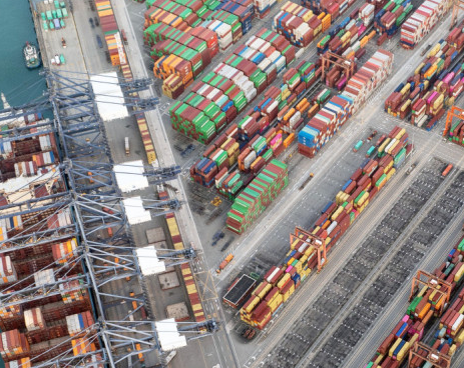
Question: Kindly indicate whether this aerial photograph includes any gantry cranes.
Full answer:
Yes, this view includes a gantry crane.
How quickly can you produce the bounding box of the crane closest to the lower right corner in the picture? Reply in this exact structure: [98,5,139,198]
[407,339,451,368]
